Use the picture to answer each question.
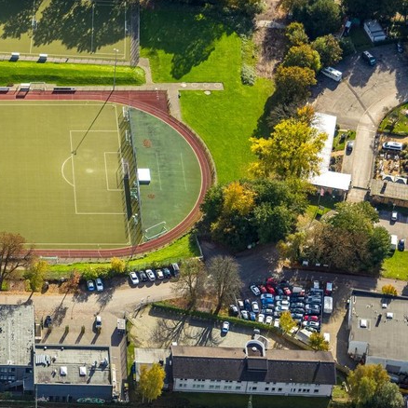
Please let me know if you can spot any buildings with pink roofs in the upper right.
No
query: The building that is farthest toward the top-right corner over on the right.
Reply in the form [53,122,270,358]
[362,21,386,48]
